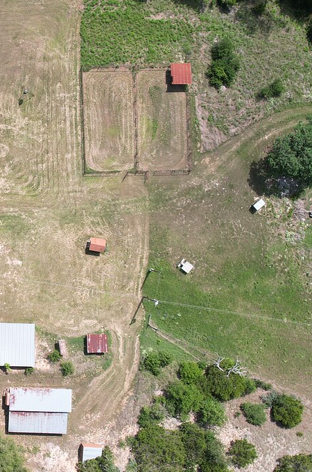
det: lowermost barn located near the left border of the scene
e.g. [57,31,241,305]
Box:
[4,386,74,435]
